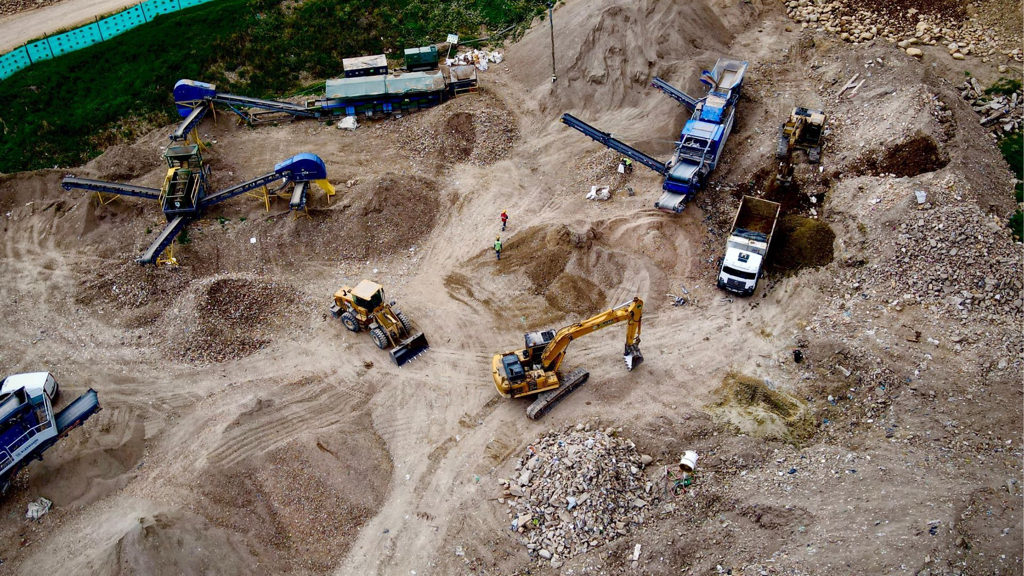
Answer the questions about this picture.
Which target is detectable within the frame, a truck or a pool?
truck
